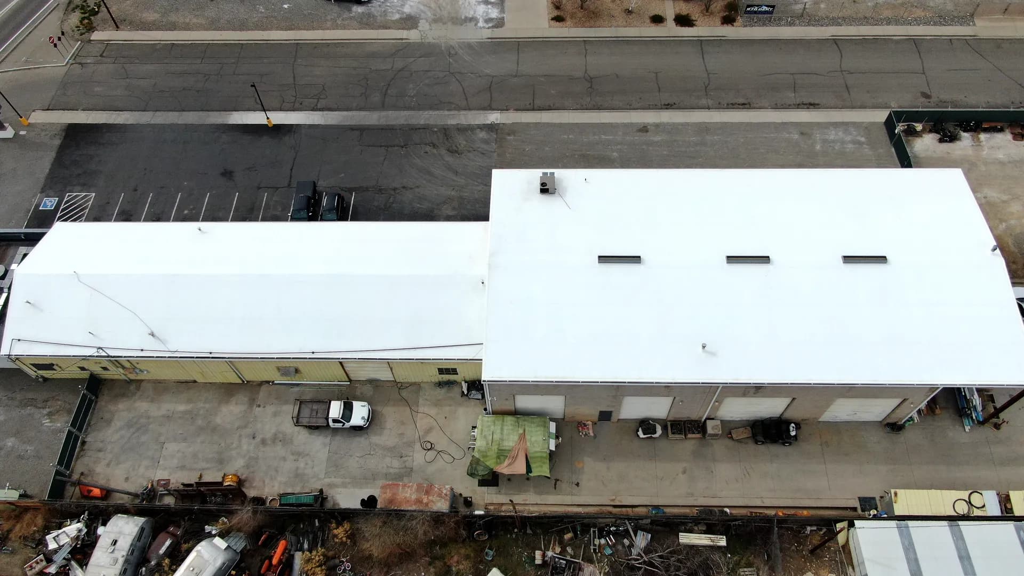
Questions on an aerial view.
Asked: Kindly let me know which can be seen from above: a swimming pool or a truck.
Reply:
truck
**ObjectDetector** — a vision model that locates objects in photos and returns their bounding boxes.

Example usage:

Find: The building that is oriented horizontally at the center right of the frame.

[481,168,1024,428]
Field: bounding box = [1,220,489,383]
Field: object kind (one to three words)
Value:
building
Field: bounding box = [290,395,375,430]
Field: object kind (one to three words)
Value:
truck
